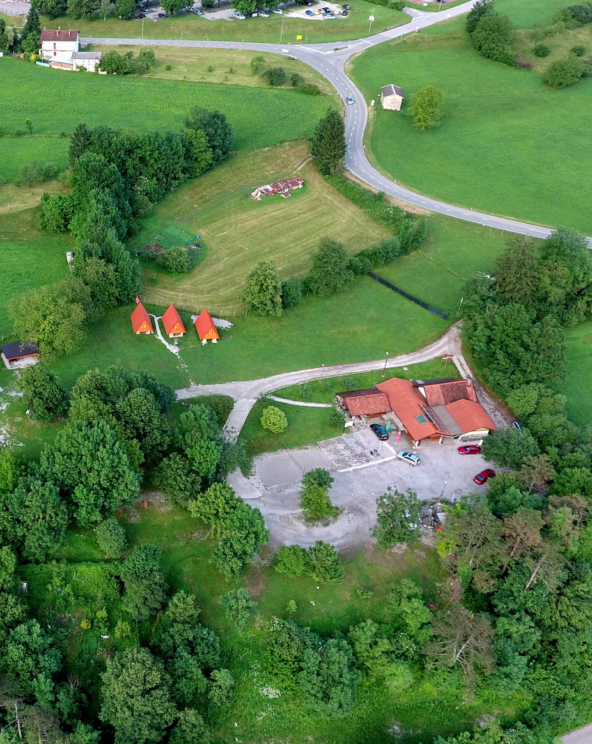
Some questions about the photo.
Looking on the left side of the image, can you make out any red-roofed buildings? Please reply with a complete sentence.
Yes, a red-roofed building can be seen on the left side of the image.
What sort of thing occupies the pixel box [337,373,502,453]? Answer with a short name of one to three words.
building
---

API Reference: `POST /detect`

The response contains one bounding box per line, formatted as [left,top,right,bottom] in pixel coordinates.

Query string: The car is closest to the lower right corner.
[472,467,494,485]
